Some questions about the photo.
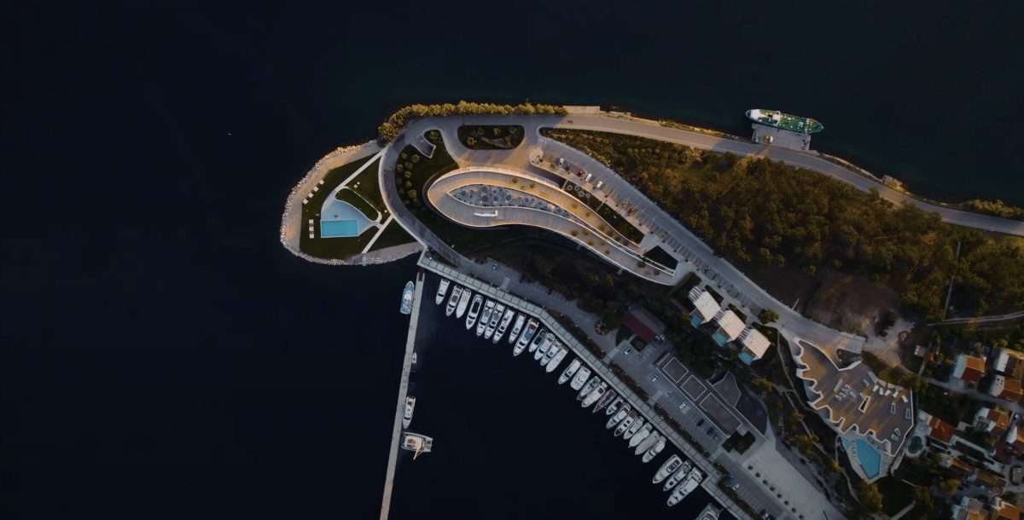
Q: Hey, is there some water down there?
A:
Yes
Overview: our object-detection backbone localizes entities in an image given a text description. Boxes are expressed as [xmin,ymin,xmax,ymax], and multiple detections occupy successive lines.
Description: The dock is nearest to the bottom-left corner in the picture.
[379,272,424,520]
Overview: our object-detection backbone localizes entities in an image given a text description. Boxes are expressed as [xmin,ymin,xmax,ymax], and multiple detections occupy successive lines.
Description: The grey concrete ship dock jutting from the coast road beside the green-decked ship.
[750,125,811,151]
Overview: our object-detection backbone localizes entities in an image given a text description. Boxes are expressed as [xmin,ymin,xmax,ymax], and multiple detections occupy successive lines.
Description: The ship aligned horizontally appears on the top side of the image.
[743,107,824,133]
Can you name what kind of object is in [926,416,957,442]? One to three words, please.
house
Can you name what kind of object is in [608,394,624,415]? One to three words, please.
boat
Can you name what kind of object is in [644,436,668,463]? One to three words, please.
boat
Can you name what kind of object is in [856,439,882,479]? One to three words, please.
swimming pool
